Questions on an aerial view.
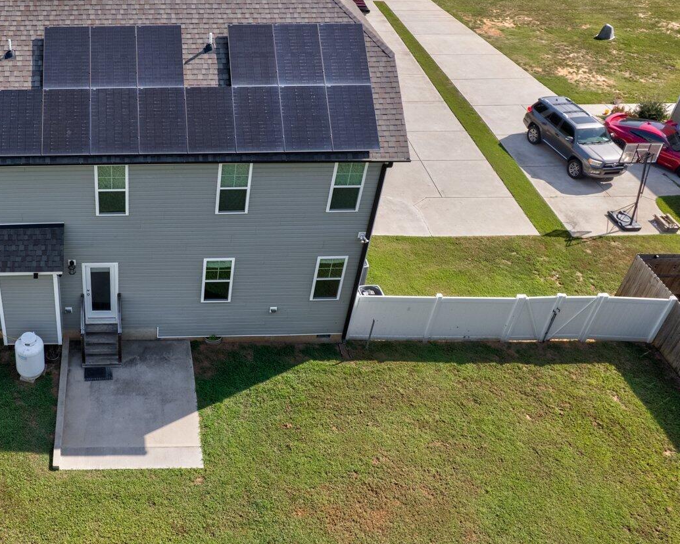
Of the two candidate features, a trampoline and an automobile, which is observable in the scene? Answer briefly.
automobile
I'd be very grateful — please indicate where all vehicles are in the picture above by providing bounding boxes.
[525,96,635,185]
[607,107,680,169]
